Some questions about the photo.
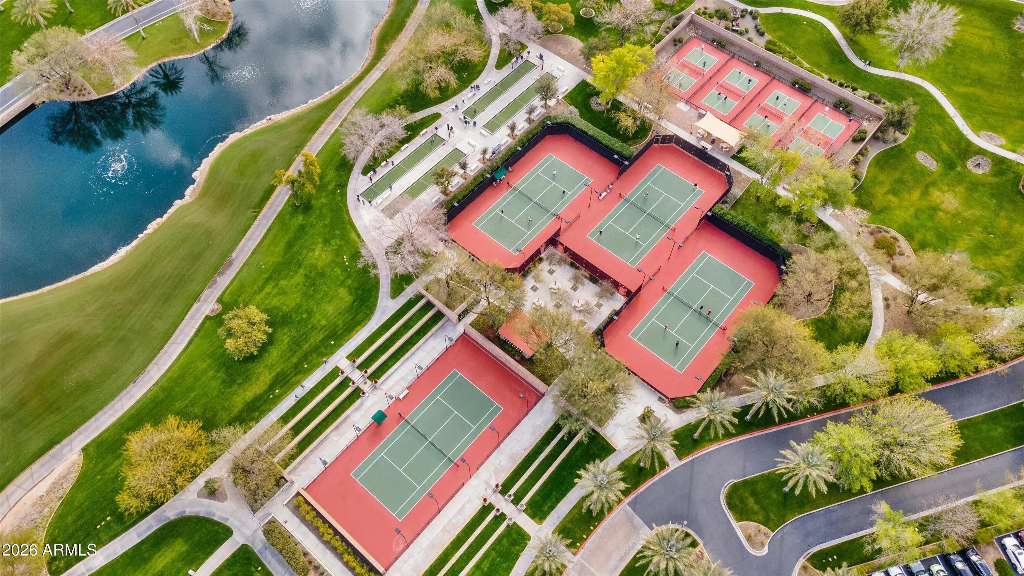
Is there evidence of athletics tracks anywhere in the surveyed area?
No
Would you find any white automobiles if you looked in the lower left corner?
No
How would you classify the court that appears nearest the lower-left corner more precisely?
tennis court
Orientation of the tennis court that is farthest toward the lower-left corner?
diagonally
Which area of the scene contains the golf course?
left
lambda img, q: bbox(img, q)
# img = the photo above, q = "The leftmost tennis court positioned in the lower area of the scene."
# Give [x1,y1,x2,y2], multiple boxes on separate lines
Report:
[304,332,544,569]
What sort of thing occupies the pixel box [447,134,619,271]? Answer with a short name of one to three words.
tennis court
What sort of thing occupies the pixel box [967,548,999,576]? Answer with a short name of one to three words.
car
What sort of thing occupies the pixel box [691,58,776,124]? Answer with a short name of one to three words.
sports court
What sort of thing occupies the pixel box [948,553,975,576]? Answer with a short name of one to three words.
car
